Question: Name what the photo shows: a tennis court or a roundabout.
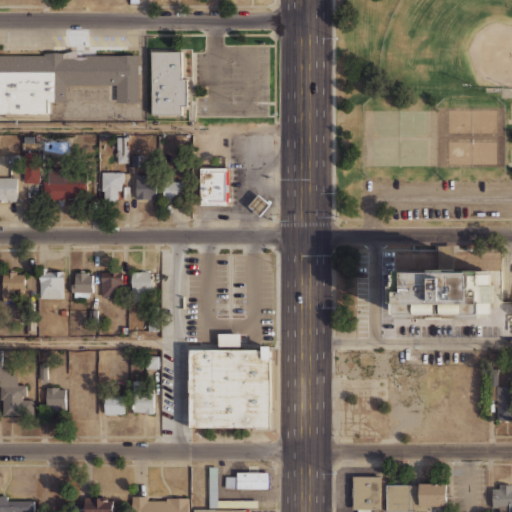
tennis court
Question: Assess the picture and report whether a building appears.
Yes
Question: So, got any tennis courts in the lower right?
No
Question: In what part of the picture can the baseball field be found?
top right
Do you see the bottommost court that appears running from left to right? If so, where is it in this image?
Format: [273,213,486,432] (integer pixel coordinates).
[449,142,497,165]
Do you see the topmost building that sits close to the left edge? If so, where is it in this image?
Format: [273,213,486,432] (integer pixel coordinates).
[0,54,140,121]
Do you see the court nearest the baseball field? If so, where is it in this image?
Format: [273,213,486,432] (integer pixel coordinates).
[449,110,497,134]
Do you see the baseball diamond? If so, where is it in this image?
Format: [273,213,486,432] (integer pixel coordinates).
[470,24,512,88]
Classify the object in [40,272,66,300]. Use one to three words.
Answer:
house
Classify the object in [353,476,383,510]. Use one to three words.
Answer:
building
